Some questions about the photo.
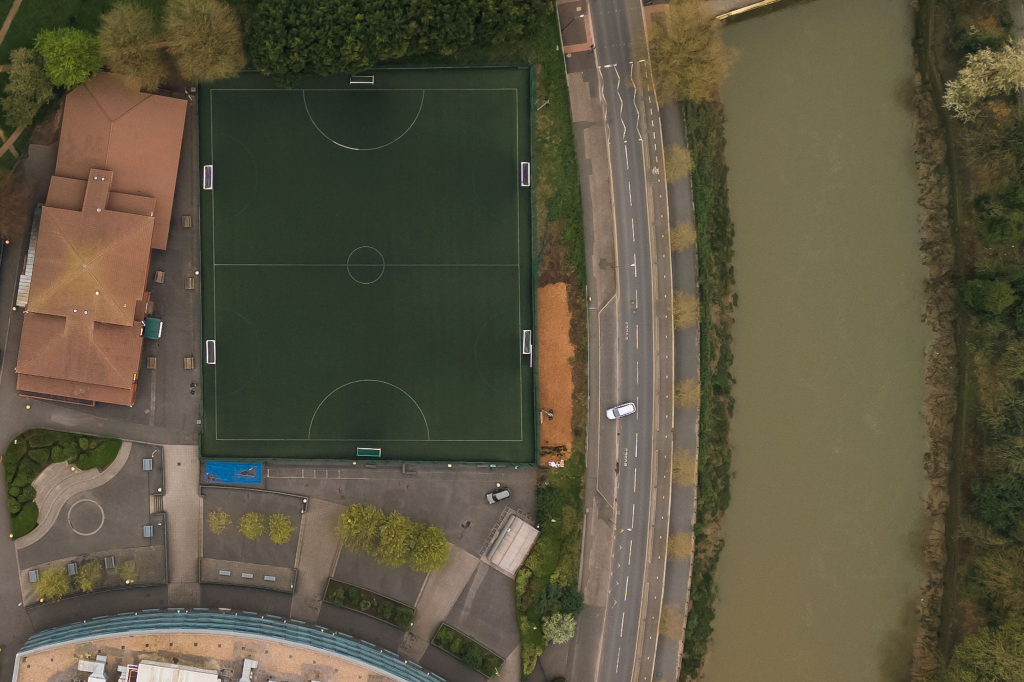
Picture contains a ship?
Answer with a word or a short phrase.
No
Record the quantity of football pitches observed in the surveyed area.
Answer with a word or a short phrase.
1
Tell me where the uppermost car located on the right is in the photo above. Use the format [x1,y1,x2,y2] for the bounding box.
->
[606,402,637,420]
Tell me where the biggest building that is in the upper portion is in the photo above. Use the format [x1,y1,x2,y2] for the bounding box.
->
[15,72,188,406]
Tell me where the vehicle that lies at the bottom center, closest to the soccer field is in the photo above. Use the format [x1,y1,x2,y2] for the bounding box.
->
[485,487,511,505]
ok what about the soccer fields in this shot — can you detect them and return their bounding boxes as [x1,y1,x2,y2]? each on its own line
[200,65,538,465]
